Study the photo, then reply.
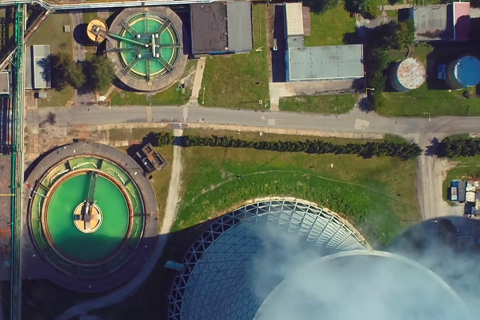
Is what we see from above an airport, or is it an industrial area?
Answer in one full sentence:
The area seen from above is an industrial area.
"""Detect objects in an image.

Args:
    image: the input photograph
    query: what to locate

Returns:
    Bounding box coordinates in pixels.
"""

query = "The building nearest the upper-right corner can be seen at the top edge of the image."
[449,1,470,41]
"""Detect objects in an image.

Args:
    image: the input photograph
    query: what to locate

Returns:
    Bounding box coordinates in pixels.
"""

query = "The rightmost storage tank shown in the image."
[446,56,480,88]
